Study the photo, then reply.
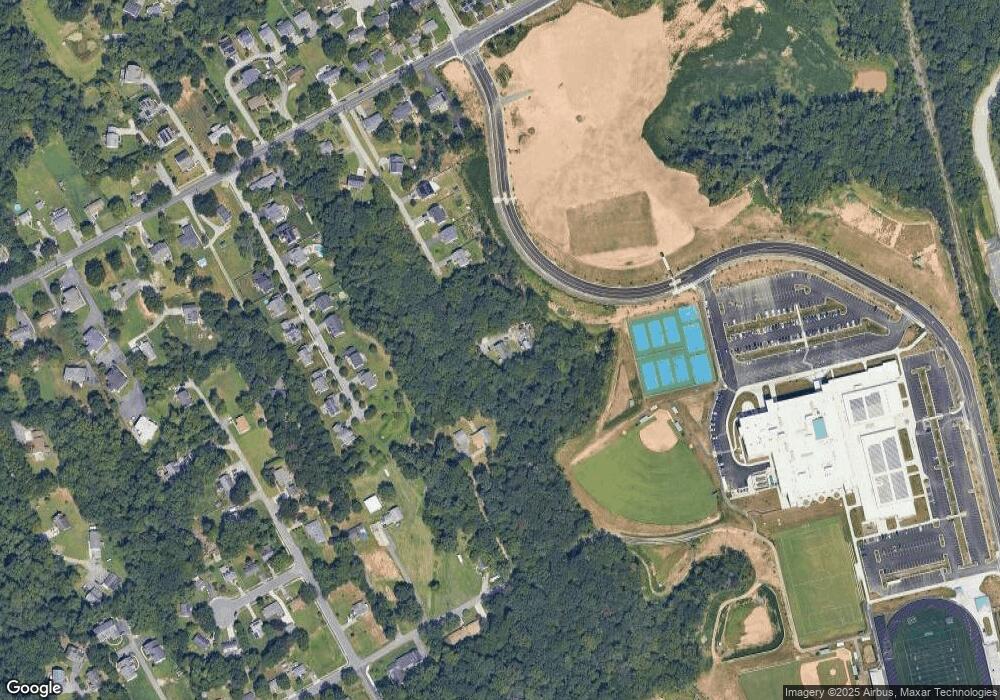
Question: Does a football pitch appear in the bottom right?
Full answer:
Yes, in the bottom right there is a football pitch.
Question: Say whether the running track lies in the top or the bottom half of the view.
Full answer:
Seen from above, the running track lies in the bottom half of the view.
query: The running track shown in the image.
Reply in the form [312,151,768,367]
[873,599,990,700]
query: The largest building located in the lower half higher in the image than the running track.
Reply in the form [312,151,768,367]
[739,360,916,523]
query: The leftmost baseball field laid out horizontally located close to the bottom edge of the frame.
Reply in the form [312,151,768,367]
[739,648,856,700]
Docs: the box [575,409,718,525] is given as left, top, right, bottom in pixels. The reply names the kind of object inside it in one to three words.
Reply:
baseball field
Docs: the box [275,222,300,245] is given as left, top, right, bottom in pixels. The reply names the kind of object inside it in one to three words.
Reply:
house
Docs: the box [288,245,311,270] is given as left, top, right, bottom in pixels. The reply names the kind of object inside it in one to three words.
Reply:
house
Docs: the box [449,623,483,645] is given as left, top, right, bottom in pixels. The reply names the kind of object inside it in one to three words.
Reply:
barn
